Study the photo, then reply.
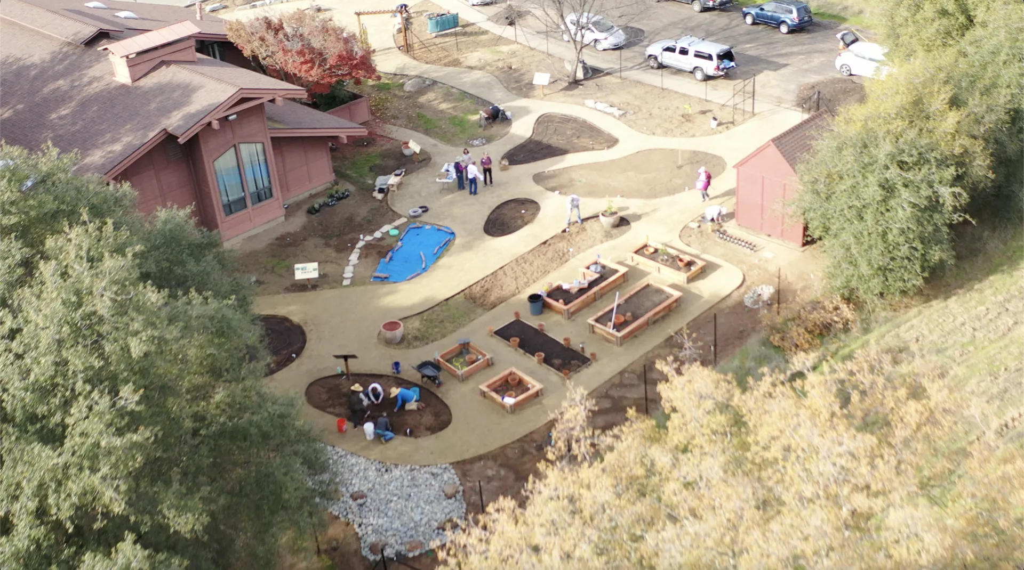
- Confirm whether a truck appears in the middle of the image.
No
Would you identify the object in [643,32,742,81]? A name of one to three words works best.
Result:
truck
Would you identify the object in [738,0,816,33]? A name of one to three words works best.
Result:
car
